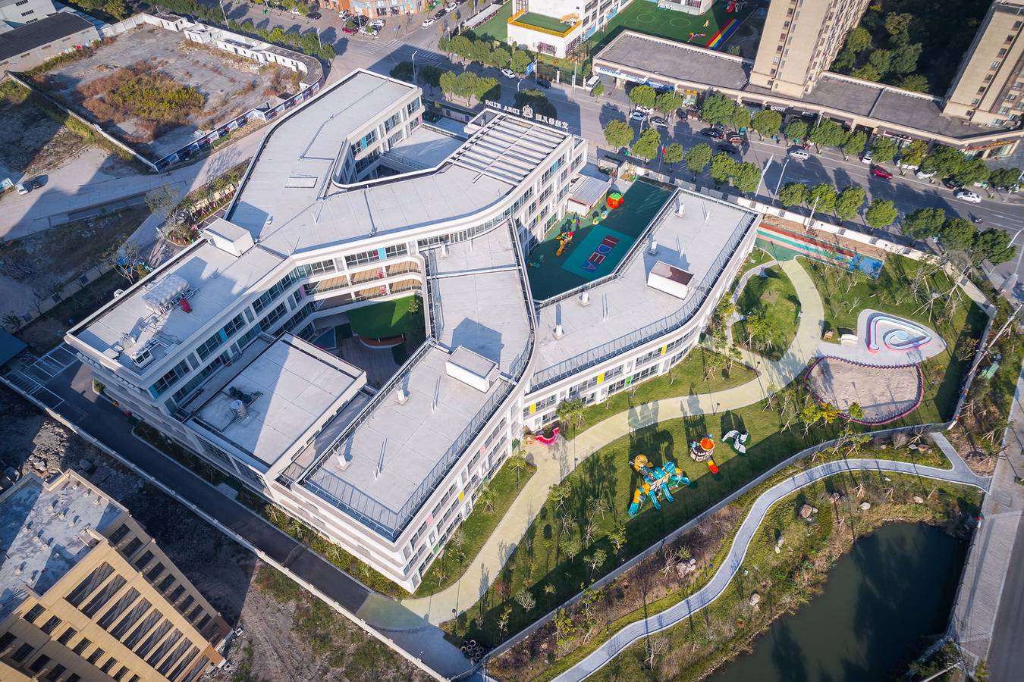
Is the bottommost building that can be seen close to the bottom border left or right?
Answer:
left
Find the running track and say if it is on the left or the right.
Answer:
right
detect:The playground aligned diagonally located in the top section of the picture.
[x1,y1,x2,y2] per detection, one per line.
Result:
[526,172,641,275]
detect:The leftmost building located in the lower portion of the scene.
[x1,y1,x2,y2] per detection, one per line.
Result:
[0,460,234,682]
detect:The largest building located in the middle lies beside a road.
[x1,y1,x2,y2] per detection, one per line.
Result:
[60,69,764,598]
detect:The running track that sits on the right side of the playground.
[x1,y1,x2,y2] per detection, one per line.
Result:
[757,221,886,279]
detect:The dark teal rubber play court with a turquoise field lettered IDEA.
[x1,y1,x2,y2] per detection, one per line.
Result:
[561,224,636,279]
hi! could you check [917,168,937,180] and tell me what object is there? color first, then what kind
white vehicle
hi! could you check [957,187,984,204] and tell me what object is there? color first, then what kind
white car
